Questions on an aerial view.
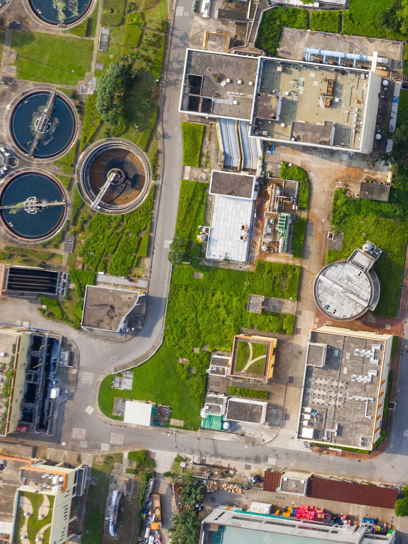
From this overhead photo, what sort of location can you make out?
industrial area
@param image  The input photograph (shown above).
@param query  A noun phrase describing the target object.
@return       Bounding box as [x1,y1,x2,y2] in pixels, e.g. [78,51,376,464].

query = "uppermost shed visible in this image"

[217,9,250,24]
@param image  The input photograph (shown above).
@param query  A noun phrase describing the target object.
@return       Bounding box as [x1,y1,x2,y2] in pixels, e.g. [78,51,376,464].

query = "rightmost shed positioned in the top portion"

[359,182,392,201]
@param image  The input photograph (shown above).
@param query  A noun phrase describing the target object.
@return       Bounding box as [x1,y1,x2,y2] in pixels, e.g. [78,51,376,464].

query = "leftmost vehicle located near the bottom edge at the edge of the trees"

[150,491,163,530]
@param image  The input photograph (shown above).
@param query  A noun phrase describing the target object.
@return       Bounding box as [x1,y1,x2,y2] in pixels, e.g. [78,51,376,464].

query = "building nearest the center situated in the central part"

[206,195,260,263]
